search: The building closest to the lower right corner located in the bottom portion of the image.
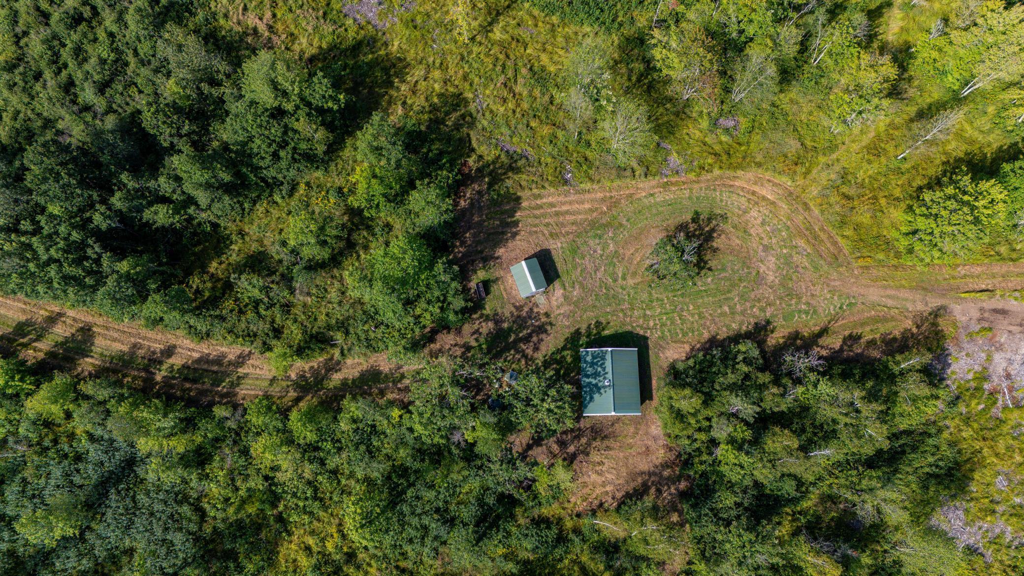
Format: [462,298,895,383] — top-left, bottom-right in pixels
[580,348,642,418]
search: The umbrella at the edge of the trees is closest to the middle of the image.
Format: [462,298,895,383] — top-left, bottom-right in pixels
[504,370,518,385]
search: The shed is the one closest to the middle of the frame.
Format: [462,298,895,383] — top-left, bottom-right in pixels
[510,258,548,299]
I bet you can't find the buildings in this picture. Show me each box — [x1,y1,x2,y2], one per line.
[510,258,548,299]
[580,348,642,418]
